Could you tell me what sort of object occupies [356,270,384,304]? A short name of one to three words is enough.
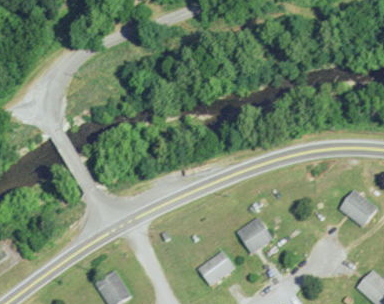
house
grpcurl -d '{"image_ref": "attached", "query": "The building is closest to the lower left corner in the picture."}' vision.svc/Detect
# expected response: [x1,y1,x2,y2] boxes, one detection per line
[96,270,132,304]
